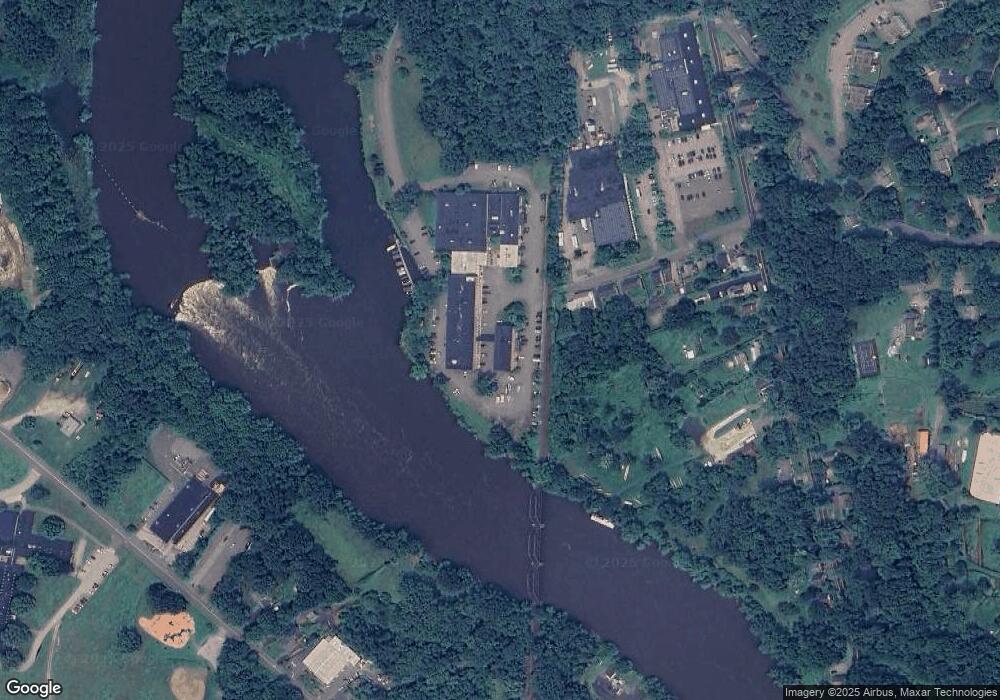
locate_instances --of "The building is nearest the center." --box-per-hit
[494,323,517,370]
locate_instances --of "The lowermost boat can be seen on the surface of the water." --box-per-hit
[590,515,614,528]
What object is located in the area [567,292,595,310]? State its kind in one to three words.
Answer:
house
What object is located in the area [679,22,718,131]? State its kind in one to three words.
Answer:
building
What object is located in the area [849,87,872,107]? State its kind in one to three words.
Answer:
house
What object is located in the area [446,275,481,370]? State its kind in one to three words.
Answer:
building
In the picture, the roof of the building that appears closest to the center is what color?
blue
